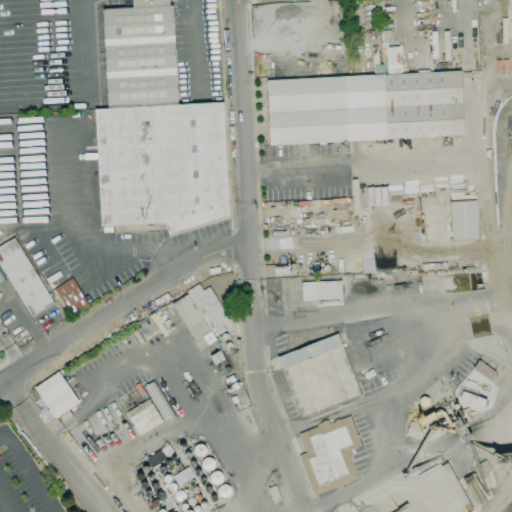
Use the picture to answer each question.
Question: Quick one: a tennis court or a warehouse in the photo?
warehouse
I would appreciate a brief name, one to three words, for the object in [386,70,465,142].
building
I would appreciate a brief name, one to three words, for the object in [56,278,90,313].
building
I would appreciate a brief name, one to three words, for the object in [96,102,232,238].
warehouse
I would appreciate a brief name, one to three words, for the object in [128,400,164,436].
shed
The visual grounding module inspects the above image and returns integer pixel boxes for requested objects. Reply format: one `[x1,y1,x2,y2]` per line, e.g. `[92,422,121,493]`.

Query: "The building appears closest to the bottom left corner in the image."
[35,372,81,420]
